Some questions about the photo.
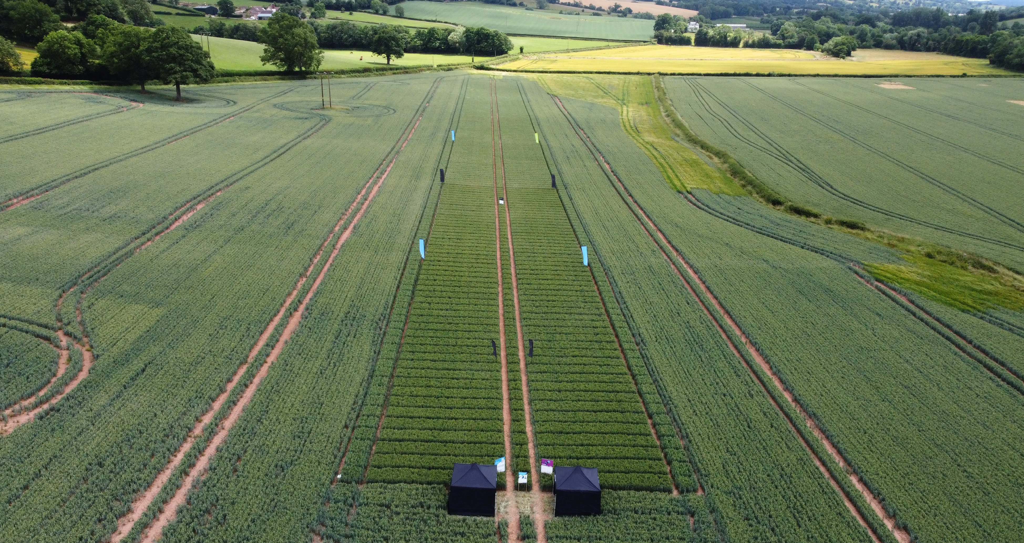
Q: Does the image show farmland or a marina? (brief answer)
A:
farmland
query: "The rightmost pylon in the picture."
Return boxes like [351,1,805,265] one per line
[316,72,333,107]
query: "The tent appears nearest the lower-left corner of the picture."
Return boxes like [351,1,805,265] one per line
[448,460,504,518]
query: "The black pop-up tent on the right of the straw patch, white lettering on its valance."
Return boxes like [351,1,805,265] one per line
[549,462,604,520]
